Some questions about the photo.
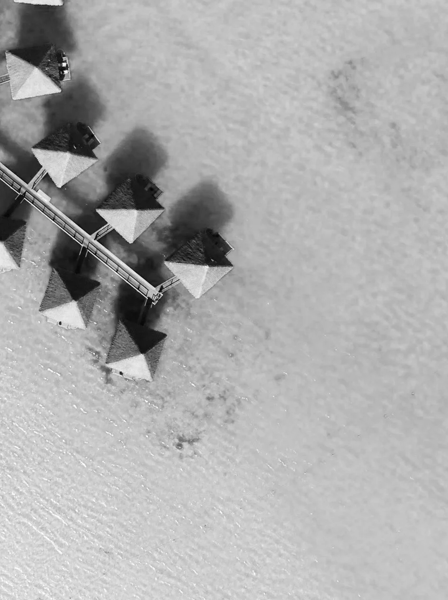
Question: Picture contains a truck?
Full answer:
No, there appears to be no truck in this shot.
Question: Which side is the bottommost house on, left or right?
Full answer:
It is on the left.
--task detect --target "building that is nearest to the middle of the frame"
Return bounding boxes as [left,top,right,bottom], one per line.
[165,229,236,298]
